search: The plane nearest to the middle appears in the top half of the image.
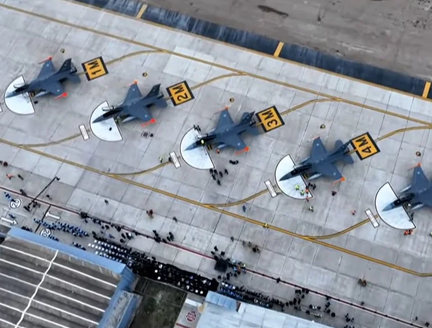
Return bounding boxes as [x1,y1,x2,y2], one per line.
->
[181,108,260,154]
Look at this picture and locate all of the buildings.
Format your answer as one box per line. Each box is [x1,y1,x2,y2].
[0,227,140,328]
[195,292,326,328]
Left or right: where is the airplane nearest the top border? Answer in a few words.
left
